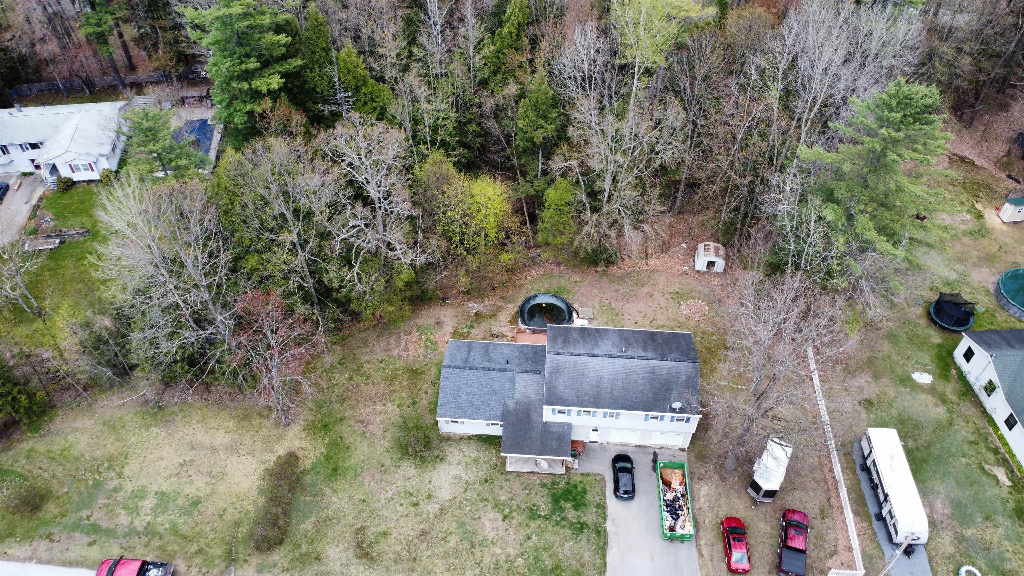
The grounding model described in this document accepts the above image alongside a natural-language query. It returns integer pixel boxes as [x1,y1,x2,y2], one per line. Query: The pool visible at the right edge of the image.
[993,265,1024,330]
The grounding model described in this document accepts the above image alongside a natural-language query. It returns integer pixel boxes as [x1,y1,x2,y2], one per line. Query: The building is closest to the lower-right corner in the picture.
[952,331,1024,459]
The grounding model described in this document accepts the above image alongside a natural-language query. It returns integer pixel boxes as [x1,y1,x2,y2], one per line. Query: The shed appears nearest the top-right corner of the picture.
[985,193,1024,222]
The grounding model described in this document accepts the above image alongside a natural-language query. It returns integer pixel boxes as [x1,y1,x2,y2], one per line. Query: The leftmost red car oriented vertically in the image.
[723,516,753,576]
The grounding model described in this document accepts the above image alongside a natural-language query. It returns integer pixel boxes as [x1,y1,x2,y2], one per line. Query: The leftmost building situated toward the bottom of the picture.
[435,322,704,478]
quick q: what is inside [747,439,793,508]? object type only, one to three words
trailer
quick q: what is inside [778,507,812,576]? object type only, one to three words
truck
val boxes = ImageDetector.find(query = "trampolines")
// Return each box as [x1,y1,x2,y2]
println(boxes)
[924,287,981,337]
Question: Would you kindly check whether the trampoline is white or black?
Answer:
black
